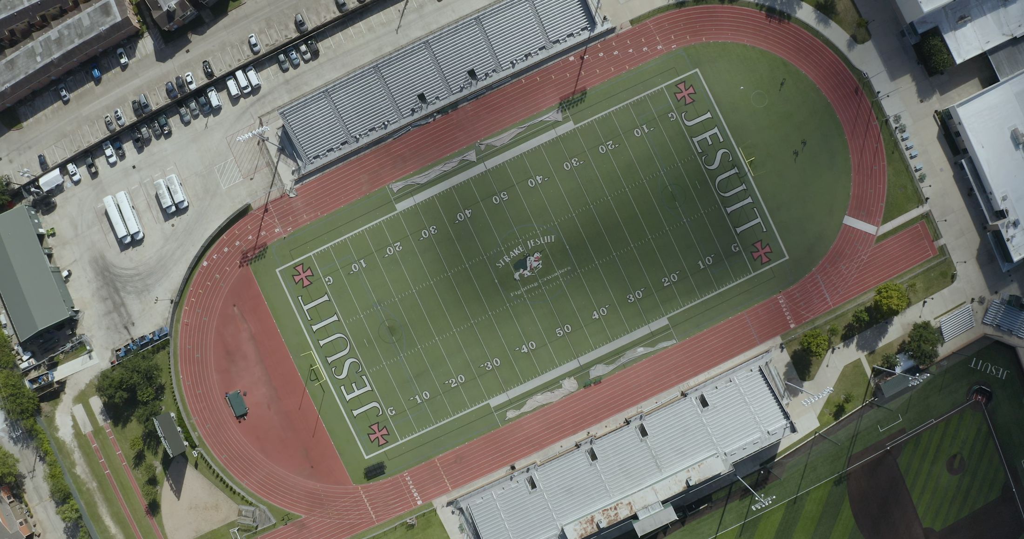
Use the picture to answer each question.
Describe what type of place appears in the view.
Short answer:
sports ground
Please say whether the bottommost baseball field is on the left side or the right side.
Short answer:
right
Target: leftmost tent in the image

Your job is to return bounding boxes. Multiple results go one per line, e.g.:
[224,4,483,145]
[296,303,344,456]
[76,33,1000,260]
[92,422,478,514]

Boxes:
[39,168,70,192]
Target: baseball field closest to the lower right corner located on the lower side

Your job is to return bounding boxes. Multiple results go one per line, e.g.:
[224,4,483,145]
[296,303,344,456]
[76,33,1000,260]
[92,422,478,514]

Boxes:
[584,336,1024,539]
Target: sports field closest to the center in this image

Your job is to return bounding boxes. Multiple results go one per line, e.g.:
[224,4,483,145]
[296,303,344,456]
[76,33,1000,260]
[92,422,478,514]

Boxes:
[248,41,852,485]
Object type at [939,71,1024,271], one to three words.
building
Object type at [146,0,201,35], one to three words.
building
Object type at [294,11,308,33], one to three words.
car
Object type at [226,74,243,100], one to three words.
vehicle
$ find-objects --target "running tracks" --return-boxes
[176,5,939,539]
